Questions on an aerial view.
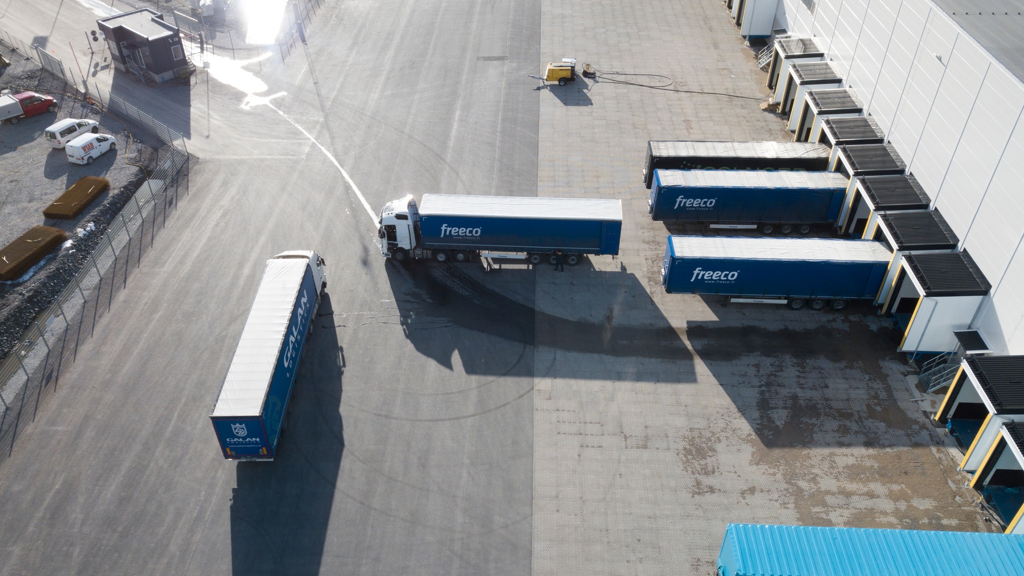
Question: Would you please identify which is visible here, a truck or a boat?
truck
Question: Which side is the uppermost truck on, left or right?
left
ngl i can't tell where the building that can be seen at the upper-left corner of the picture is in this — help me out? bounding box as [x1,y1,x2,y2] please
[96,7,186,81]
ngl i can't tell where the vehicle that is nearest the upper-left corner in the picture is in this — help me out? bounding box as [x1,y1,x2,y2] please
[0,91,59,125]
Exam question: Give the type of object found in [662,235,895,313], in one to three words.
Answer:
trailer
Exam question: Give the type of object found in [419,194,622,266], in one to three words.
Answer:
trailer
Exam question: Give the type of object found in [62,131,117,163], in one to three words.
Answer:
van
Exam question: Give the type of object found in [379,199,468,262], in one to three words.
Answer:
truck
